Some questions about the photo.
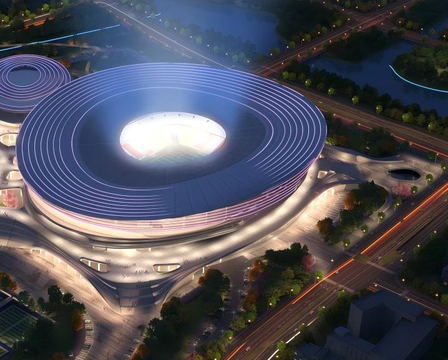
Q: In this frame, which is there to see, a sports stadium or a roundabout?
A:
sports stadium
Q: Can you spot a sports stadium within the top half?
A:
Yes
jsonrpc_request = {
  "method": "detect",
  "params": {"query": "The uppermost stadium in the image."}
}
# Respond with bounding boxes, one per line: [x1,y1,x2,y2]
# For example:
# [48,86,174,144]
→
[0,54,70,124]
